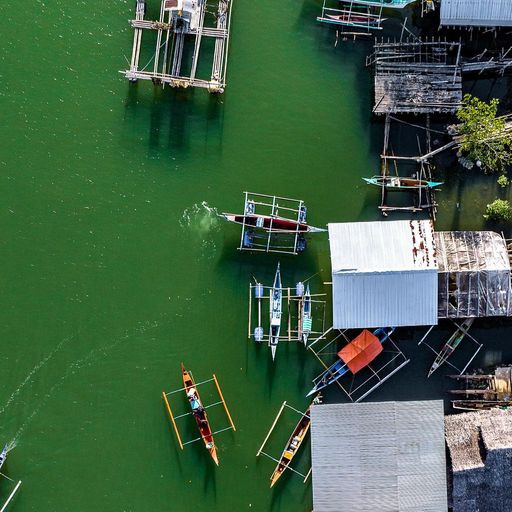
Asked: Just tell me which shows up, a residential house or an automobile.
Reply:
residential house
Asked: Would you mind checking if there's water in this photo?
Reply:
Yes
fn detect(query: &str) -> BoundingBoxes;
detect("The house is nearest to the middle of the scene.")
[324,220,439,333]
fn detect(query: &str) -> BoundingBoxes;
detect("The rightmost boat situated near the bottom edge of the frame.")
[257,392,322,488]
